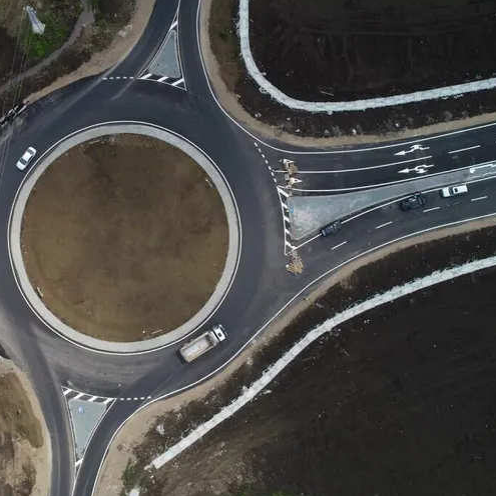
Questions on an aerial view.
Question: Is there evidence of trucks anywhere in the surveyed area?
Yes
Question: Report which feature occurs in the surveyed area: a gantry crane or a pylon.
pylon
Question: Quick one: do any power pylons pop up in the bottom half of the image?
No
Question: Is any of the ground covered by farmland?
Yes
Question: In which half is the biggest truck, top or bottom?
bottom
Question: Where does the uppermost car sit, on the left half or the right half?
left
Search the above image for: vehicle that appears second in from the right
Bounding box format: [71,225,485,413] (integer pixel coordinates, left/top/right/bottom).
[399,193,427,210]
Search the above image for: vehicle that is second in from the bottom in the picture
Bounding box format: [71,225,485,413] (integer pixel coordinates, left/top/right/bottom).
[319,219,343,237]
